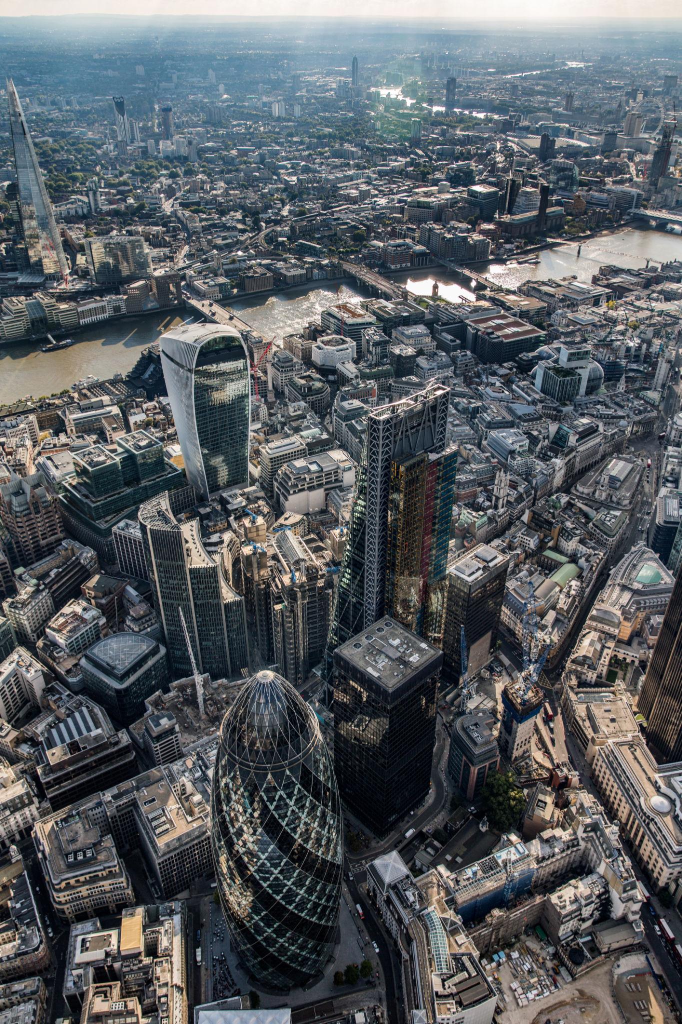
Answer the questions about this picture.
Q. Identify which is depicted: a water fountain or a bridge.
bridge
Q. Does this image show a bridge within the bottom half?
No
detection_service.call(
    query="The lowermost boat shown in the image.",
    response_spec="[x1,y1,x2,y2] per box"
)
[35,338,78,351]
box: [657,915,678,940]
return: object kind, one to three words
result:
bus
